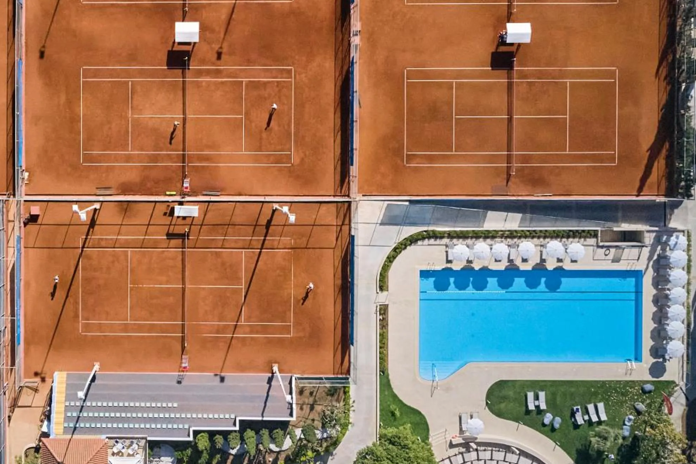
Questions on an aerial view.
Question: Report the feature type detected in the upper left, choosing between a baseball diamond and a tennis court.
tennis court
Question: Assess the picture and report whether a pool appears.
Yes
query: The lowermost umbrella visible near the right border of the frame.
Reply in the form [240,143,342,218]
[660,342,683,359]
